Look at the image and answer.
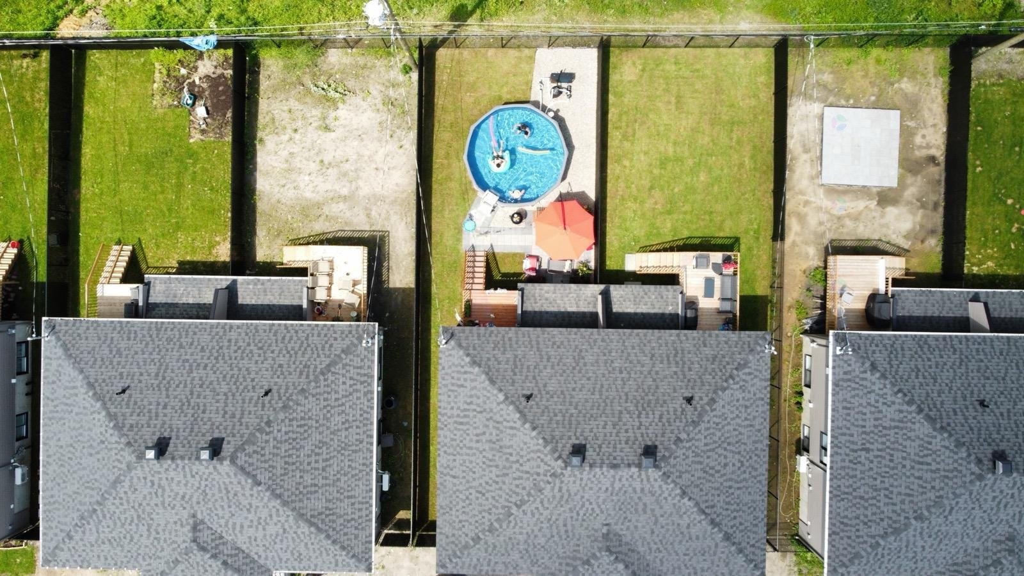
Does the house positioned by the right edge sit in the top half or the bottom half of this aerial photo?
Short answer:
bottom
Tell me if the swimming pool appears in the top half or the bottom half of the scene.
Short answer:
top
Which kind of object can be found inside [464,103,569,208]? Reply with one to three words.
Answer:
swimming pool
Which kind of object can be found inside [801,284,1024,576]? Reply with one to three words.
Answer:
house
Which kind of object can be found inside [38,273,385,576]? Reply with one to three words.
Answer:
house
